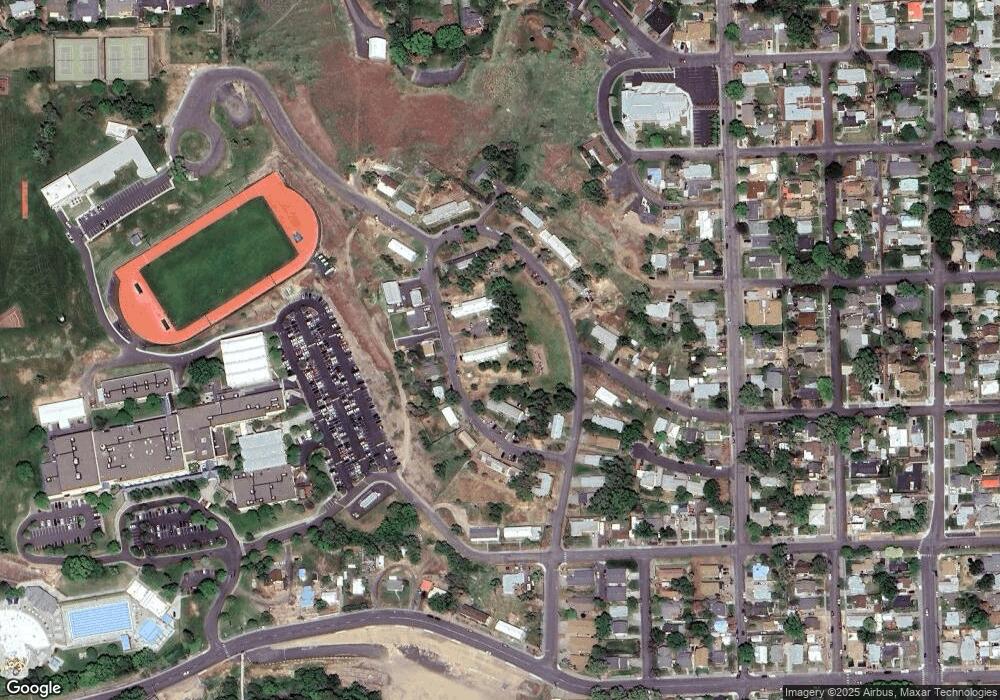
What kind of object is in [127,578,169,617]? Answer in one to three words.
building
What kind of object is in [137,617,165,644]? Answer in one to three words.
swimming pool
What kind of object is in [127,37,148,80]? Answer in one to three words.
tennis court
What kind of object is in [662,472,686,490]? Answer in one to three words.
house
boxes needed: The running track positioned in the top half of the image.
[116,173,319,345]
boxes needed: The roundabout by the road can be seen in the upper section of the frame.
[166,117,222,173]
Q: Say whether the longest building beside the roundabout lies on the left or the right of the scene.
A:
left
